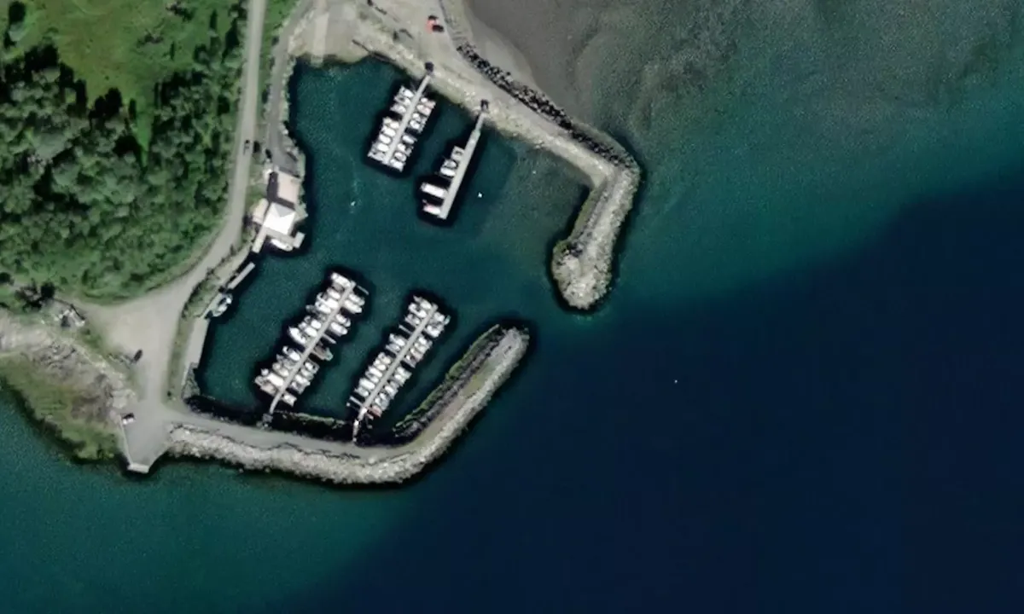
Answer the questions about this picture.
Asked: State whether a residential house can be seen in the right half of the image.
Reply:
No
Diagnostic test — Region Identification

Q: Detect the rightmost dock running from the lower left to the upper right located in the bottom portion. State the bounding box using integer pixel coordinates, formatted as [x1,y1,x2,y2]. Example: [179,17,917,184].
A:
[350,298,450,439]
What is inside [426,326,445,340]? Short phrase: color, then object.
white boat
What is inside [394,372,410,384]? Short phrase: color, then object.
white boat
